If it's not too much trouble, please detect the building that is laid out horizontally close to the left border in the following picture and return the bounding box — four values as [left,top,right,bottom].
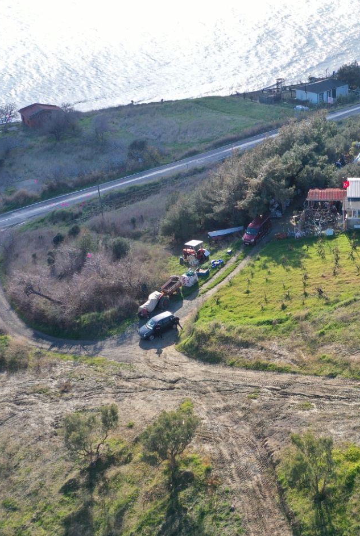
[17,102,63,127]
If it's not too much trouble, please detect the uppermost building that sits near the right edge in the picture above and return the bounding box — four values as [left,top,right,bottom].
[294,77,351,103]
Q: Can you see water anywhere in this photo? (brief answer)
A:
Yes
